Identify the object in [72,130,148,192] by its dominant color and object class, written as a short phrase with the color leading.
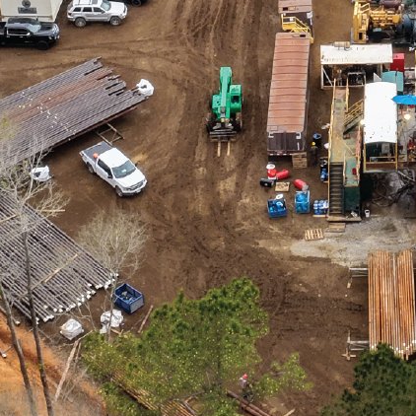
white truck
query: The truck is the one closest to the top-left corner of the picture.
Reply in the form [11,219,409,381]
[0,17,61,52]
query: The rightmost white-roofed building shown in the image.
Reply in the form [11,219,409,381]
[363,81,400,217]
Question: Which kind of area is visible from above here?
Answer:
industrial area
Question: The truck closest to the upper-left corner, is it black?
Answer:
Yes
